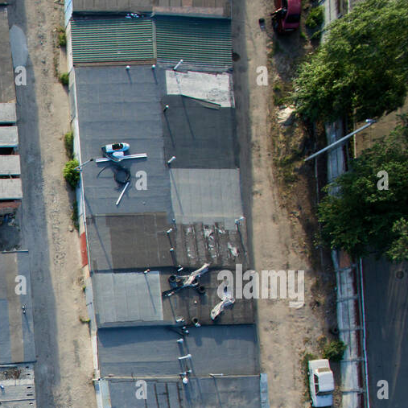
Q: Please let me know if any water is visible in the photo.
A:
No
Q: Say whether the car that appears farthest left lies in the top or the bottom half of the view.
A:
top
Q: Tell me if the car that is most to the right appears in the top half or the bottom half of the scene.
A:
bottom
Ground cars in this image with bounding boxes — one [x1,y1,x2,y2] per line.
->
[267,0,304,33]
[304,357,336,408]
